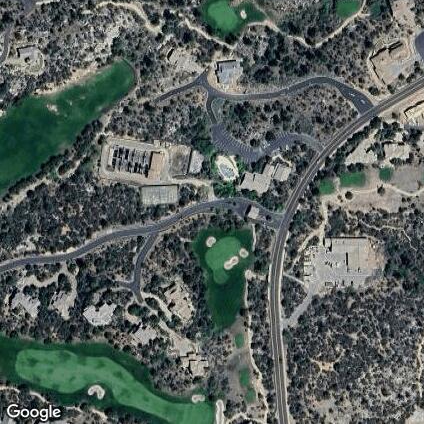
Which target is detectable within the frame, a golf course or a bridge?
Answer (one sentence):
There is a golf course in the scene.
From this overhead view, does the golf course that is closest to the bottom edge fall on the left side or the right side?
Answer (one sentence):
You can find the golf course that is closest to the bottom edge on the left side of the picture.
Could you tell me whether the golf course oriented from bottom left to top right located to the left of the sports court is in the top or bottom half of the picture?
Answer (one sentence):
The top half of the photo is where the golf course oriented from bottom left to top right located to the left of the sports court is.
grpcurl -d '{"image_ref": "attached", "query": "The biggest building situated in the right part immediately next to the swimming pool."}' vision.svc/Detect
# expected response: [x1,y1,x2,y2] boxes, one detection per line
[240,162,292,192]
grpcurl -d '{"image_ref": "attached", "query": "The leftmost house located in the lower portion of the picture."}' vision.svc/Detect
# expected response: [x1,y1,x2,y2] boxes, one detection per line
[8,290,41,319]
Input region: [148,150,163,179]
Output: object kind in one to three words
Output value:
building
